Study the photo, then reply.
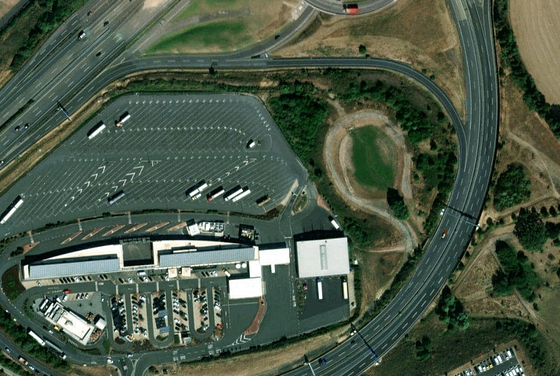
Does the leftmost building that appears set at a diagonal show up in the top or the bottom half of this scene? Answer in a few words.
bottom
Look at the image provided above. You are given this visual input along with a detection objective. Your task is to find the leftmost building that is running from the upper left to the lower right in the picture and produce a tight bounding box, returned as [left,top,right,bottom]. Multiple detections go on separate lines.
[47,303,94,343]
